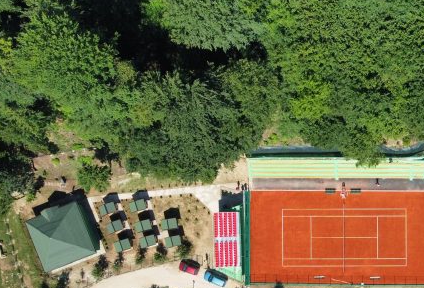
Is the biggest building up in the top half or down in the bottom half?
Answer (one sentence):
You can find the biggest building in the bottom half.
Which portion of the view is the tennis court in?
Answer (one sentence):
The tennis court is located in the bottom right region of the scene.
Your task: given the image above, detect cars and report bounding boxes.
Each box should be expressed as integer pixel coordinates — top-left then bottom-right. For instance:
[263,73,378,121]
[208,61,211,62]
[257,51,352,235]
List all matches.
[179,261,201,275]
[204,271,229,286]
